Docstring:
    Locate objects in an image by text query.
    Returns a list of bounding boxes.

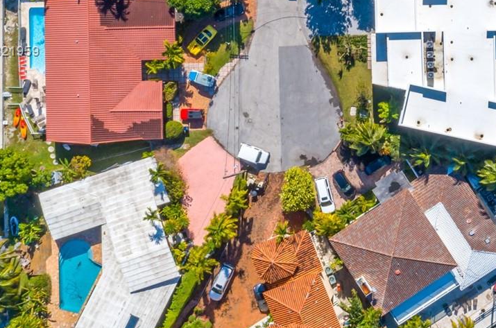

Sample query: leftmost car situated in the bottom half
[210,263,235,300]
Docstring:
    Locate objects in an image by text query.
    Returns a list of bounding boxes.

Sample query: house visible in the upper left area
[45,0,178,144]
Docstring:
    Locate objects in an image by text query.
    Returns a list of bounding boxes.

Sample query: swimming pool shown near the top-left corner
[26,5,47,77]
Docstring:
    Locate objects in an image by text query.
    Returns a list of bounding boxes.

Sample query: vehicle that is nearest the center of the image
[235,142,272,167]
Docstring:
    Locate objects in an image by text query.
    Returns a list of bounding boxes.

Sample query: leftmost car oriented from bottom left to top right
[188,23,217,57]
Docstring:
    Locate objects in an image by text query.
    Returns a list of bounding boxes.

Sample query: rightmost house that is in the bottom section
[329,170,496,326]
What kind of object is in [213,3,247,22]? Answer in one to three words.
car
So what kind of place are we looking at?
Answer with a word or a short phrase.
residential area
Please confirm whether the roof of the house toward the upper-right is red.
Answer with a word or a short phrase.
No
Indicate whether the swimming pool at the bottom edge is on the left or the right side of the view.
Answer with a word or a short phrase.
left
